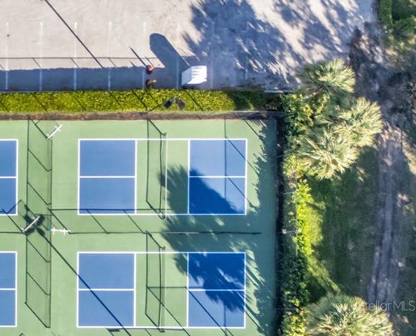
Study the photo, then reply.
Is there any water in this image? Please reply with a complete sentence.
No, there's no water in this view.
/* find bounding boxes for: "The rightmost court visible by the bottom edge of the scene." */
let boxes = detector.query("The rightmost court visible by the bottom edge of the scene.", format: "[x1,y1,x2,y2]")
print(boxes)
[189,254,245,327]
